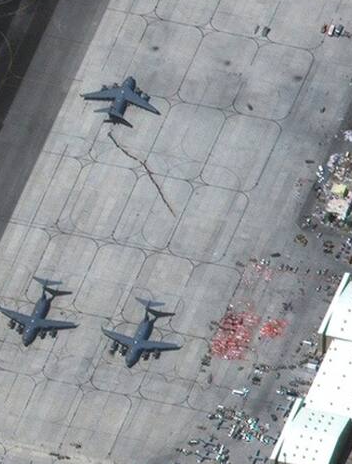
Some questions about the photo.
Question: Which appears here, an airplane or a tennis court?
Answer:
airplane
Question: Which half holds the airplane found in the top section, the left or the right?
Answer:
left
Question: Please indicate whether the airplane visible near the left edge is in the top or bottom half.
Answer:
bottom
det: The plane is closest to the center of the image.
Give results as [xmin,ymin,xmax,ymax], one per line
[103,295,181,368]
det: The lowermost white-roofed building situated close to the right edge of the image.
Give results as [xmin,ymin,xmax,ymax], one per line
[271,401,348,464]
